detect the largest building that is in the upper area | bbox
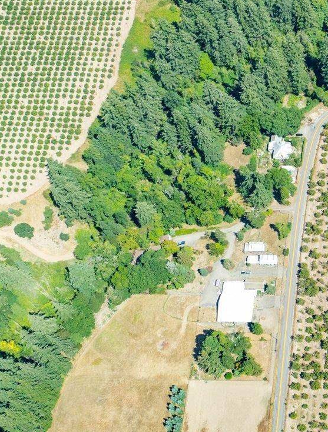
[264,134,297,164]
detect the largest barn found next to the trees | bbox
[215,281,268,327]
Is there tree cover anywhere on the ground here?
Yes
